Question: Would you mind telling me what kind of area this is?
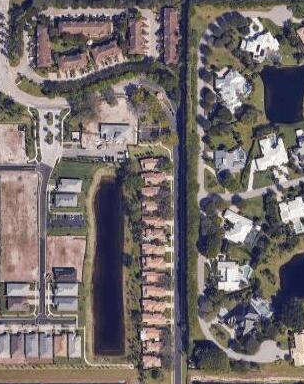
residential area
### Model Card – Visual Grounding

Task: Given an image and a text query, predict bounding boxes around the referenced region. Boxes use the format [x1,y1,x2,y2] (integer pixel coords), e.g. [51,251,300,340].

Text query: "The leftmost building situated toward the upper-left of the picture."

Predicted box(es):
[36,22,52,68]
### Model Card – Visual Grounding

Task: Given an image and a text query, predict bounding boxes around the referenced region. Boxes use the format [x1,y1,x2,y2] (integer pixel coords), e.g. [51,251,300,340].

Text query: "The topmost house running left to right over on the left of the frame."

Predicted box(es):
[57,20,112,35]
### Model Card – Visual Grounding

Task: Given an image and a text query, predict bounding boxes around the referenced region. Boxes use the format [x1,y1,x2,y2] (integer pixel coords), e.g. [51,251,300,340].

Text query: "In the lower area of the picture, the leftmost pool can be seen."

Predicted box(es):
[239,262,253,280]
